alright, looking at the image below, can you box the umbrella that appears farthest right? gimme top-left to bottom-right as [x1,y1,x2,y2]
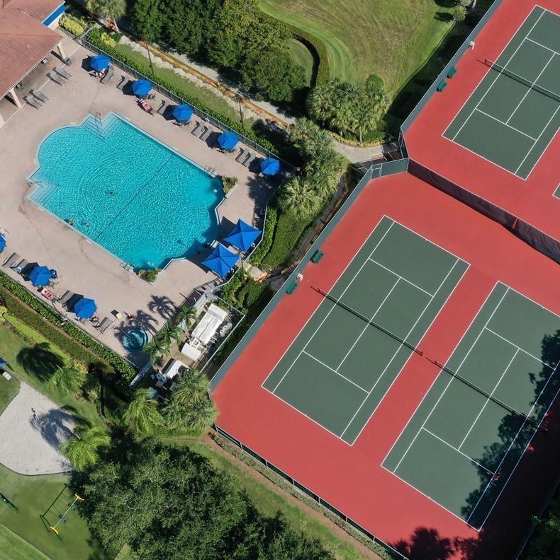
[261,157,281,178]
